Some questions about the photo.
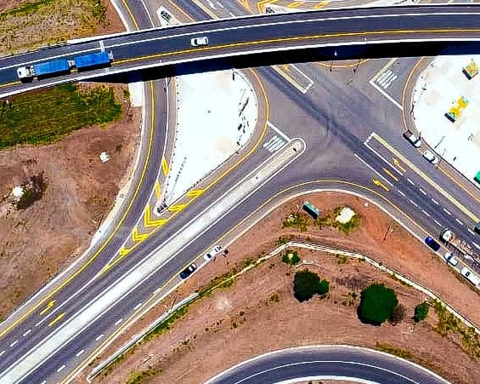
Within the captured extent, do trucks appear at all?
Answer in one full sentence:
Yes, looking at the shot, I can spot a truck.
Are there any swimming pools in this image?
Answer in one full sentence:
No, this view has no swimming pool in it.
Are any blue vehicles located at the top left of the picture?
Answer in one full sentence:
Yes, a blue vehicle appears at the top left of the picture.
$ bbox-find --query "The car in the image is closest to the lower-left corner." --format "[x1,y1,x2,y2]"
[179,262,198,278]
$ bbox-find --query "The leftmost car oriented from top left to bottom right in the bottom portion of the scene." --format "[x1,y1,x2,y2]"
[423,235,440,251]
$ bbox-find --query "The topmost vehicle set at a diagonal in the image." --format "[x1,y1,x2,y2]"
[400,129,421,147]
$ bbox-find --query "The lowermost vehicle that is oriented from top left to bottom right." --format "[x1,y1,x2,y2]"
[460,266,480,285]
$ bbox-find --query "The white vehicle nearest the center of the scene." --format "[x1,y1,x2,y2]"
[202,244,223,260]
